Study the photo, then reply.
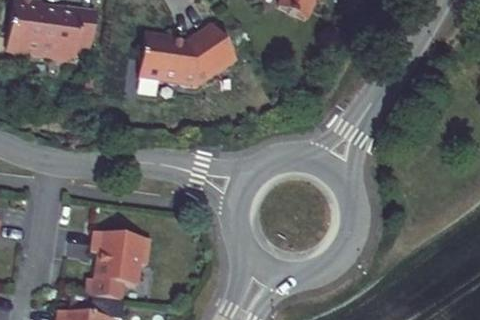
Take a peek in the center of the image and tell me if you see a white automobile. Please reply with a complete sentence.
No, no white automobile appears in the center of the image.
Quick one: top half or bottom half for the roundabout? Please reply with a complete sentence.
Seen from above, the roundabout lies in the bottom half of the view.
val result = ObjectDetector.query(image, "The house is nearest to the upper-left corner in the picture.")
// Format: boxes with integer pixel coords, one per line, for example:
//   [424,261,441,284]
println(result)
[8,0,96,64]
